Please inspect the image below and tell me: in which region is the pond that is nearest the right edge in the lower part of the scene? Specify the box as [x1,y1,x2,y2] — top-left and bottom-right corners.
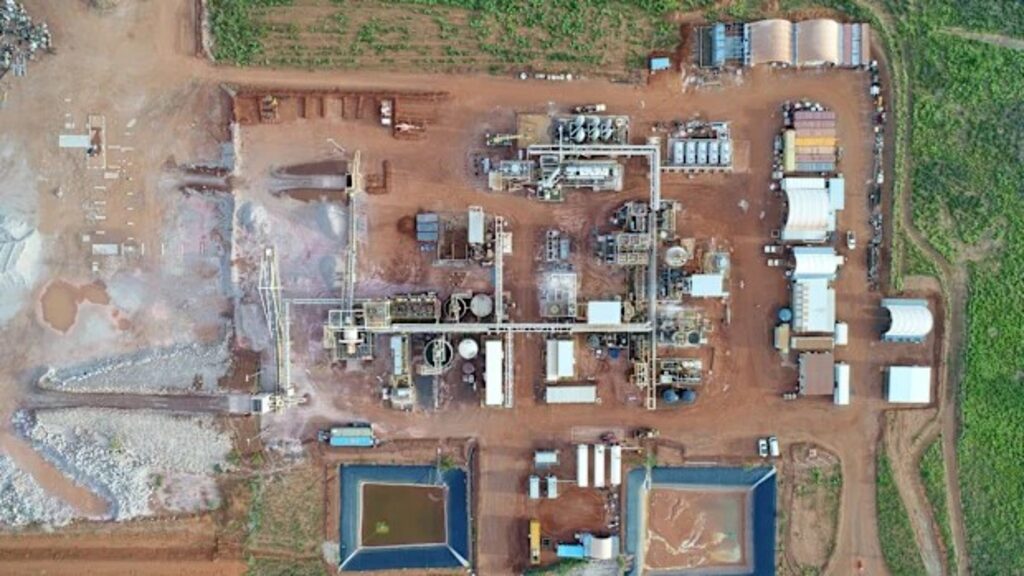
[624,465,779,576]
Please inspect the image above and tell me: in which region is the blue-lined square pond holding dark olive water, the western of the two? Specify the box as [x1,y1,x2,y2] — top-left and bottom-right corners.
[337,461,474,574]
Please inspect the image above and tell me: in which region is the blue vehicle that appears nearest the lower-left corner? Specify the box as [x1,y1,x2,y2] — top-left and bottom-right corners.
[321,434,375,446]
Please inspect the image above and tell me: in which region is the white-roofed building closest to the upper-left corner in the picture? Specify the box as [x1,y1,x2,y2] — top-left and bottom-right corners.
[60,136,94,148]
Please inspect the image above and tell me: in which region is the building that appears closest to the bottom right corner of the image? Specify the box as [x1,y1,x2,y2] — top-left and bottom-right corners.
[882,366,930,403]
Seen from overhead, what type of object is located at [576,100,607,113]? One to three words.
vehicle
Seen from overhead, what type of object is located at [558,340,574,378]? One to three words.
building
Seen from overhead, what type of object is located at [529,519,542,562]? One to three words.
vehicle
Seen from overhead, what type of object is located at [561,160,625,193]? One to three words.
building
